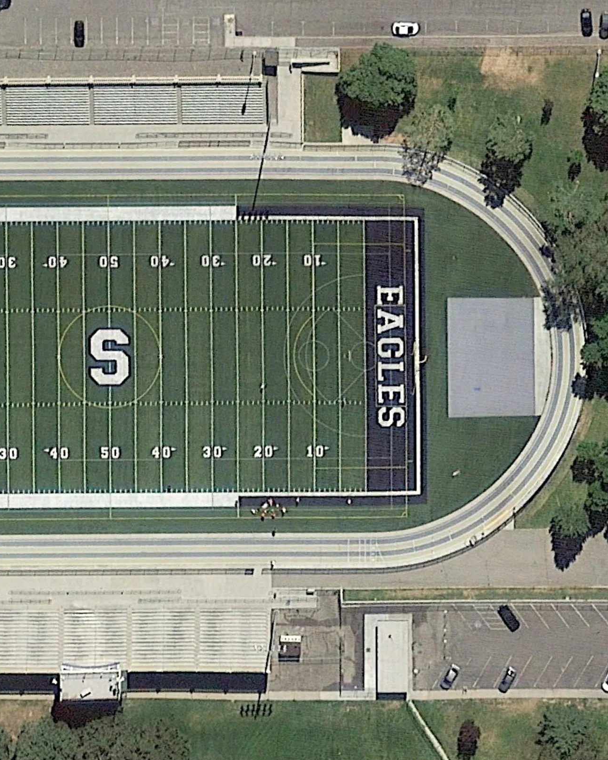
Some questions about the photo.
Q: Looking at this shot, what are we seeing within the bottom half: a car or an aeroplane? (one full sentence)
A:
There is a car within the bottom half.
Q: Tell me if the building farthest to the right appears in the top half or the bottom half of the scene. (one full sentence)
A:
It is in the bottom half that the building farthest to the right appears.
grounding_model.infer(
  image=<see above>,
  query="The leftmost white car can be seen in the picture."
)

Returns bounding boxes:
[392,23,419,38]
